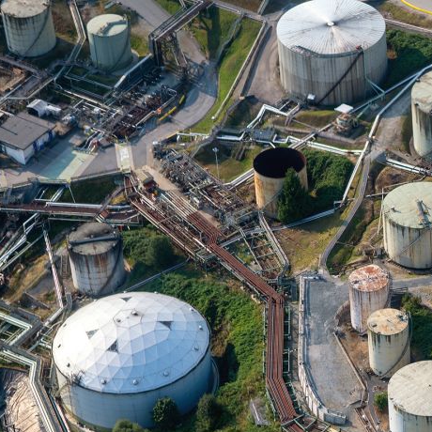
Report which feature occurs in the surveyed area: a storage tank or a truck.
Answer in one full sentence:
I can see a storage tank in this picture.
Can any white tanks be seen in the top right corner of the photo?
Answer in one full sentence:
Yes, a white tank is visible in the top right corner of the photo.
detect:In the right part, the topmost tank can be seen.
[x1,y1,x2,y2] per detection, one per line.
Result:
[276,0,389,107]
